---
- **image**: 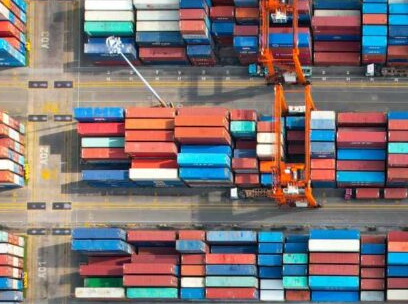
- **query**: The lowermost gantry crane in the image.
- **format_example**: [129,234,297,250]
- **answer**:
[270,85,326,209]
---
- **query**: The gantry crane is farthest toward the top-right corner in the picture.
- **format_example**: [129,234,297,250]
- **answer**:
[258,0,315,84]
